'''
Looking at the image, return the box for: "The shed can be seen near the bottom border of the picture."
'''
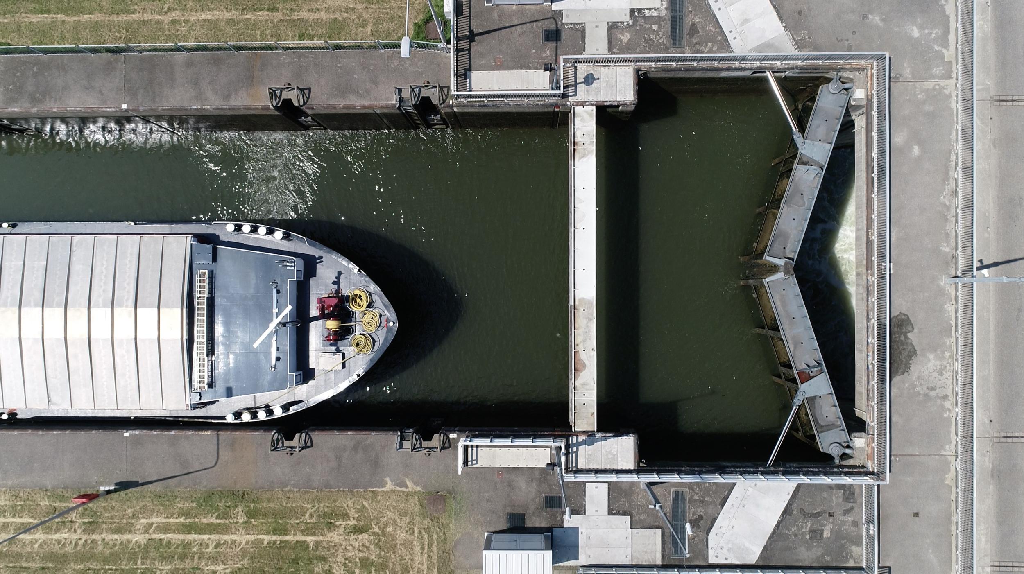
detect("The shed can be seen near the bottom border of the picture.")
[480,533,554,574]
